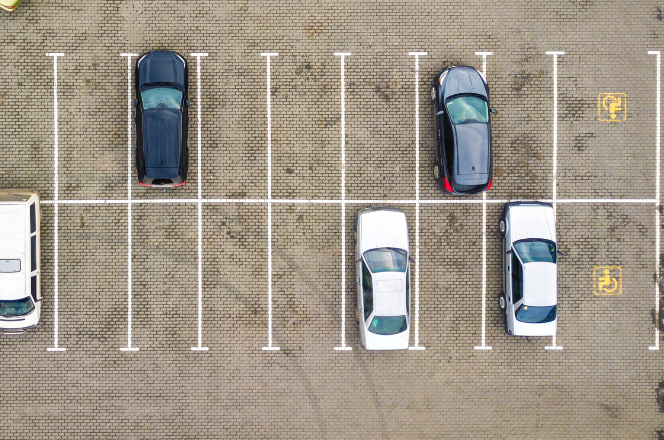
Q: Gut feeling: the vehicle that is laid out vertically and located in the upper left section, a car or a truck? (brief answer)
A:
car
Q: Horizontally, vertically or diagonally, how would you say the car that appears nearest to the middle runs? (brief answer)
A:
vertically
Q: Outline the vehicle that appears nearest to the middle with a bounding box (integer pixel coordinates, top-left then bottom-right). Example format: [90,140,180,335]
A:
[353,206,416,351]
